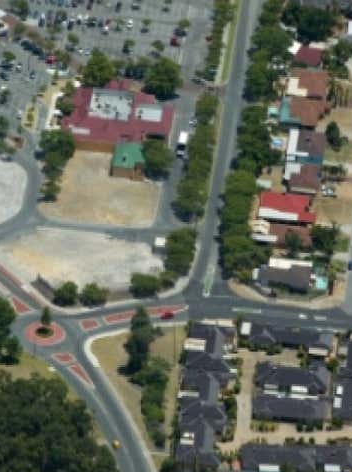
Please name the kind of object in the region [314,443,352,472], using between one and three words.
house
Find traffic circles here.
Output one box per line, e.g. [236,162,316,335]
[11,311,80,355]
